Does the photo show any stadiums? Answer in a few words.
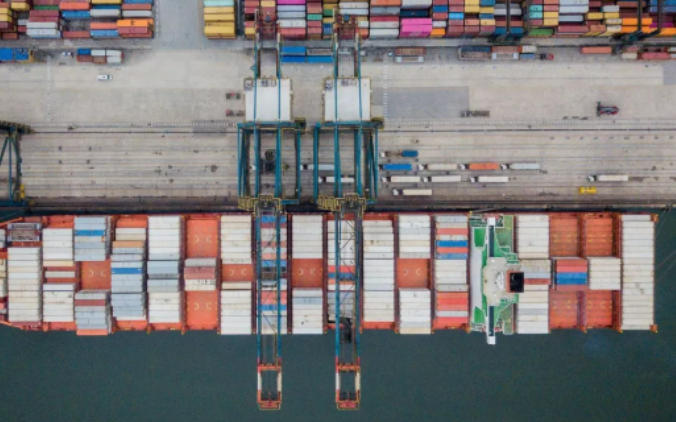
No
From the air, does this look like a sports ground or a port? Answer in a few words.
port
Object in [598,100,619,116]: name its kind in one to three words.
work vehicle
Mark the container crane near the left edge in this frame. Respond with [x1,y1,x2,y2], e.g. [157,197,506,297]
[0,116,44,206]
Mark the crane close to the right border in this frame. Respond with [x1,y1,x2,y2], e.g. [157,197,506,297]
[609,0,661,44]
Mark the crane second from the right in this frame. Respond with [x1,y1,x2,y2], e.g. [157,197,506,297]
[487,0,528,44]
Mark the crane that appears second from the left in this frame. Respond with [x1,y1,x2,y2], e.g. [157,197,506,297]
[235,10,312,409]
